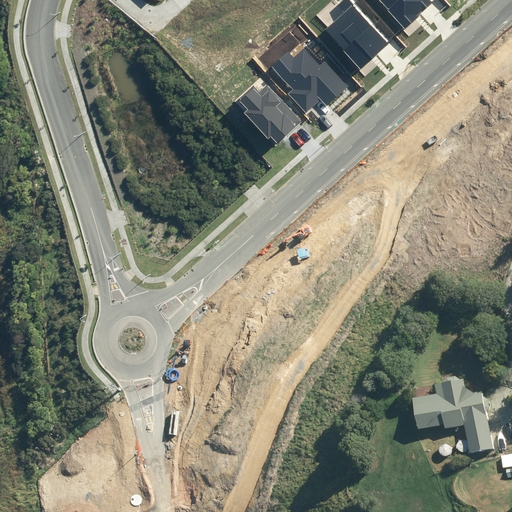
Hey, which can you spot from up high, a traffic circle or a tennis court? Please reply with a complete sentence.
Of the two, only a traffic circle appears.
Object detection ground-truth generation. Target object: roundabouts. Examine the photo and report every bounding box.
[108,316,157,365]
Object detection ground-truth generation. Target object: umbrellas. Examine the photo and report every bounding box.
[456,441,466,453]
[439,444,452,457]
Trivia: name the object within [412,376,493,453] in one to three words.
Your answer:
house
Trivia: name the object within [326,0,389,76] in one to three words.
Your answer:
house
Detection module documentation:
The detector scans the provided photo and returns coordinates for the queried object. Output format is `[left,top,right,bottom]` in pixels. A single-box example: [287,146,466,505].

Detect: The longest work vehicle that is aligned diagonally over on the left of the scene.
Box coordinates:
[174,338,194,357]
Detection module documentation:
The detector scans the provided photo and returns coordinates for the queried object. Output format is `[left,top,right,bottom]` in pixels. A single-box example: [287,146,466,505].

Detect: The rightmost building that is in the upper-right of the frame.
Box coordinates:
[378,0,432,36]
